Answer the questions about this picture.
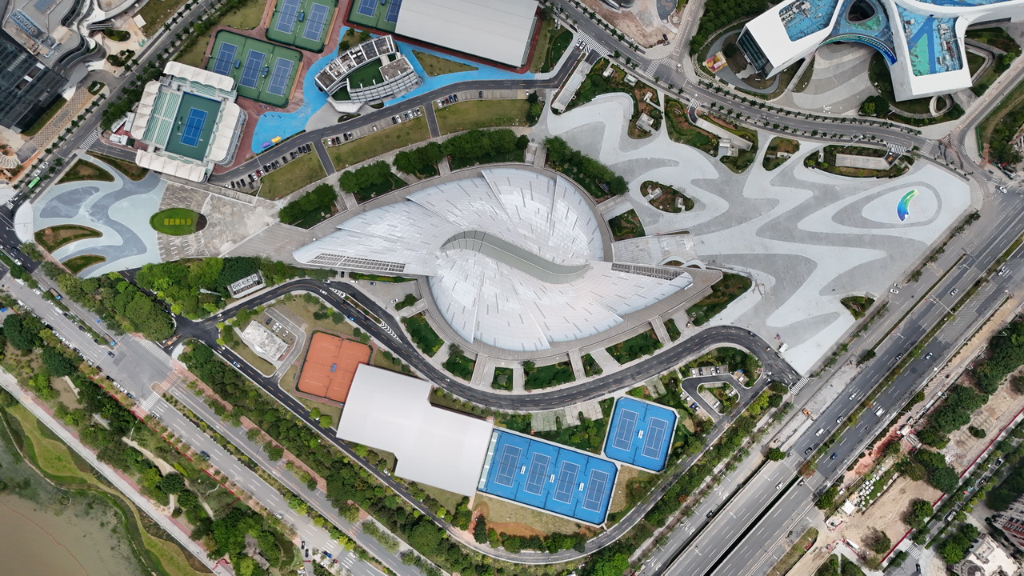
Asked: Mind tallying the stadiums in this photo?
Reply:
2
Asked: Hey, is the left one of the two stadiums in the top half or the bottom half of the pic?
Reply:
top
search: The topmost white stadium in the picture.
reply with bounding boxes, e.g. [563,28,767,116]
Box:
[128,63,249,183]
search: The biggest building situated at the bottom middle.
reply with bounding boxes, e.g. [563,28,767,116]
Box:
[336,361,494,497]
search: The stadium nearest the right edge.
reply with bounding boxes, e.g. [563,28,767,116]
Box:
[217,161,724,365]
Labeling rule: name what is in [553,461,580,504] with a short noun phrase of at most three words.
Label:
tennis court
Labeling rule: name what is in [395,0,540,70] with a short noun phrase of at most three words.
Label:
building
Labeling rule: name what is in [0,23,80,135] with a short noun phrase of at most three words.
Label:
building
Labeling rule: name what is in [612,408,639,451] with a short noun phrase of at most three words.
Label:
tennis court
